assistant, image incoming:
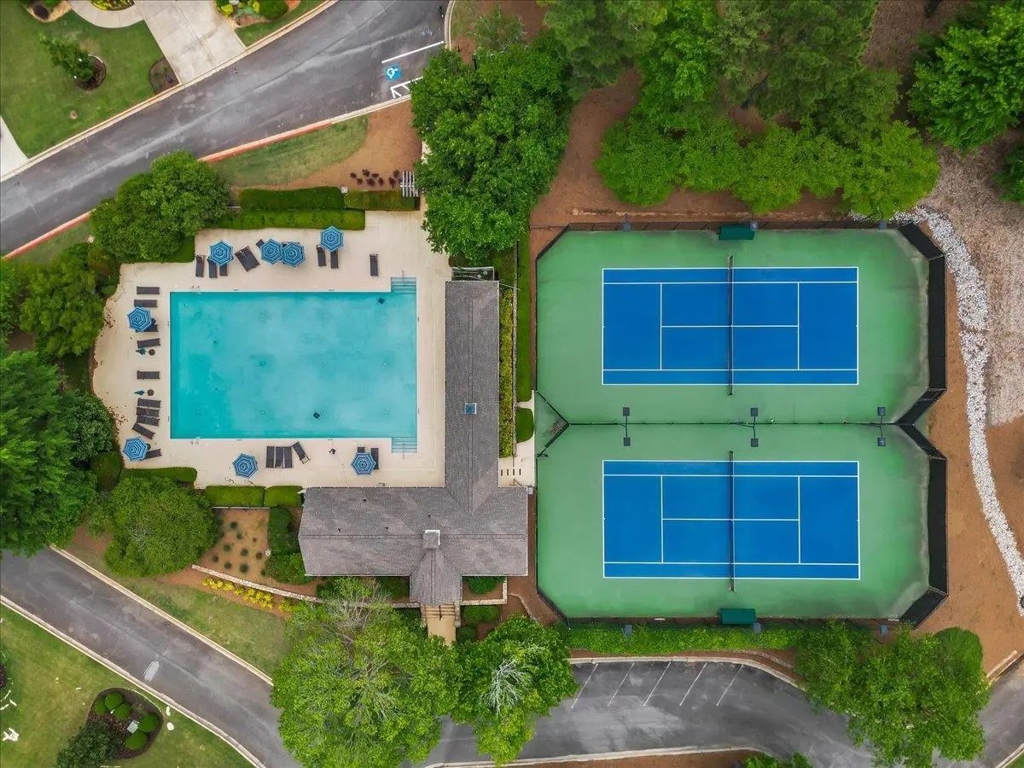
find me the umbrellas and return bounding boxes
[321,227,344,252]
[138,389,156,397]
[139,347,157,356]
[124,436,151,461]
[130,307,155,333]
[210,240,233,266]
[351,452,377,475]
[259,239,282,264]
[234,453,258,478]
[282,241,306,266]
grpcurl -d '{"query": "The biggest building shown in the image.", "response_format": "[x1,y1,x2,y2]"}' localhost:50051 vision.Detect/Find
[296,280,529,607]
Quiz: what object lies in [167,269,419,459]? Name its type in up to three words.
swimming pool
